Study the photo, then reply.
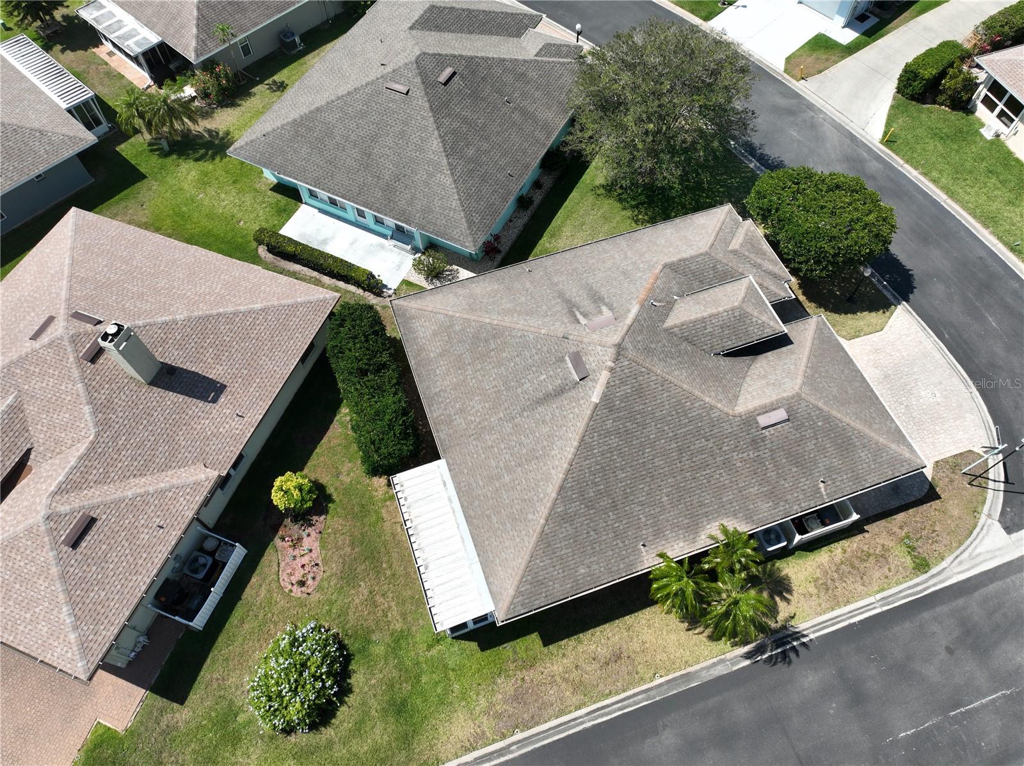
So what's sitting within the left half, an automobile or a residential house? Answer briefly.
residential house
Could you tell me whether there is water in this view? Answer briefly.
No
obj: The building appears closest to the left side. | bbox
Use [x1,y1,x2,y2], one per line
[0,33,112,232]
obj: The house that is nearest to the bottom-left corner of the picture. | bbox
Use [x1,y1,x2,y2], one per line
[0,204,340,686]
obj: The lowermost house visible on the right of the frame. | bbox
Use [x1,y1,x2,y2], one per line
[387,203,928,638]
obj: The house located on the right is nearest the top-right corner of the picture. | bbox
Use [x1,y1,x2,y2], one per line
[967,41,1024,153]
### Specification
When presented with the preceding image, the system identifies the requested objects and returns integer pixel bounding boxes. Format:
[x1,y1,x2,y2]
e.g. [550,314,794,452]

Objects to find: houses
[0,33,112,232]
[799,0,876,27]
[81,0,352,85]
[0,204,340,686]
[387,203,928,638]
[228,0,608,261]
[967,41,1024,153]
